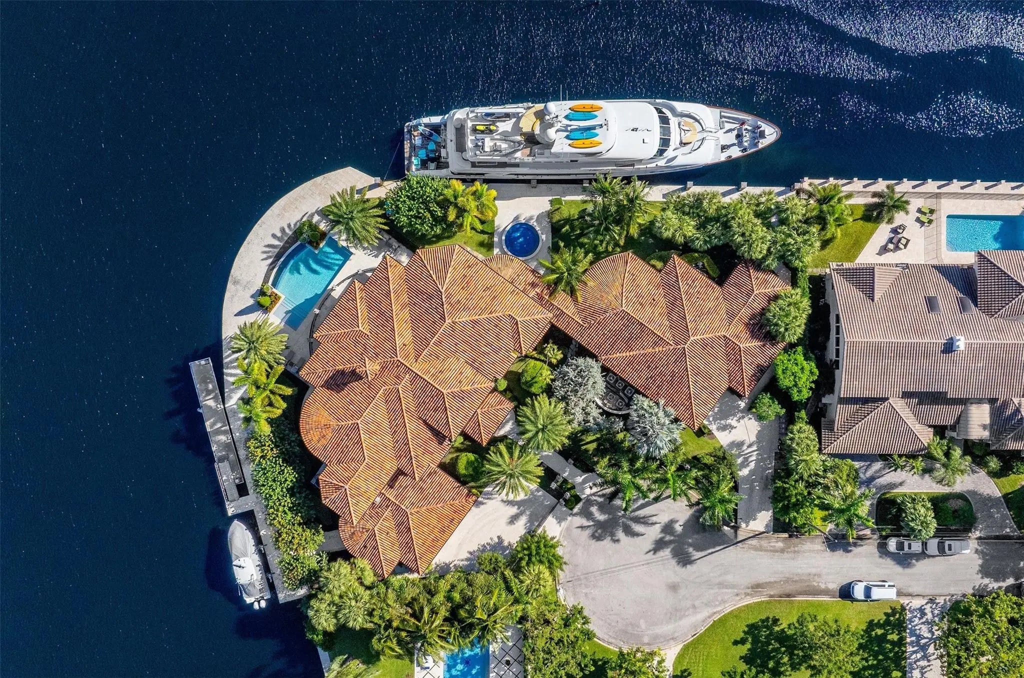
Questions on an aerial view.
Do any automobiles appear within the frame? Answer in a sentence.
Yes, the photo shows an automobile.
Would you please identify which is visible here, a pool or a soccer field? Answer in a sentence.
The one in the frame is a pool.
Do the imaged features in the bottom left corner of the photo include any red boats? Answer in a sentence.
No, there's no red boat to be seen in the bottom left corner of the photo.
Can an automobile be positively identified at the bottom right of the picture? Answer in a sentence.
Yes, there is an automobile at the bottom right of the picture.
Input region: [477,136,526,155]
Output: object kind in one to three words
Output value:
boat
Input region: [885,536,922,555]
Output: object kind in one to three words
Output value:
car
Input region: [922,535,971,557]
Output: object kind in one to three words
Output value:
car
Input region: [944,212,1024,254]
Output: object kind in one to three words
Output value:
swimming pool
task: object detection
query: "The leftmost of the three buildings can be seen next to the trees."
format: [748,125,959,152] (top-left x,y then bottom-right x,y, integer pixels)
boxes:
[298,245,554,576]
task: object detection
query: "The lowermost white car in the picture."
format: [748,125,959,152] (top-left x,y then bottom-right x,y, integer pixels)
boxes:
[850,580,897,602]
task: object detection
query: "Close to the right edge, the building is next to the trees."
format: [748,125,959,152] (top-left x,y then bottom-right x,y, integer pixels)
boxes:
[816,250,1024,453]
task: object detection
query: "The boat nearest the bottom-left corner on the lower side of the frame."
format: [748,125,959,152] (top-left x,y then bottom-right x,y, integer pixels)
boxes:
[230,521,272,610]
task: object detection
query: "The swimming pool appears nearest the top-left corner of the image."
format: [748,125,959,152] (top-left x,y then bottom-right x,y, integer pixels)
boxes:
[267,237,352,330]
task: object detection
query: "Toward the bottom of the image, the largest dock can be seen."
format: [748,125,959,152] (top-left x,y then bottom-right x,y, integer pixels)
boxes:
[188,356,244,489]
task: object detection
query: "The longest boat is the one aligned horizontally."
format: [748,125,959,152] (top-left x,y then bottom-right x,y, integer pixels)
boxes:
[405,88,781,178]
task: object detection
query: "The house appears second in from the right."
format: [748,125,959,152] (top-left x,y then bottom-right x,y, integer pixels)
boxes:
[485,252,792,431]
